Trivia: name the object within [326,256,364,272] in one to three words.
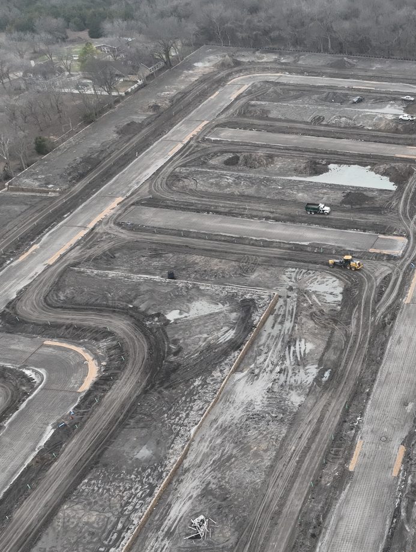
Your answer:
work vehicle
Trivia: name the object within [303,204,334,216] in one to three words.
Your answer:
vehicle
